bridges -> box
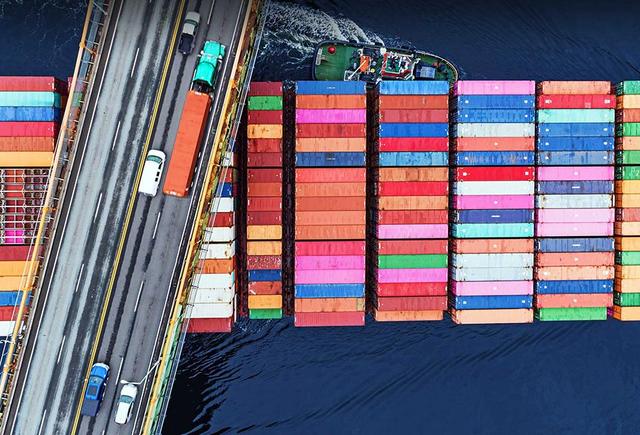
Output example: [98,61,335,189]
[0,0,271,435]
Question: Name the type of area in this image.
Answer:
port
